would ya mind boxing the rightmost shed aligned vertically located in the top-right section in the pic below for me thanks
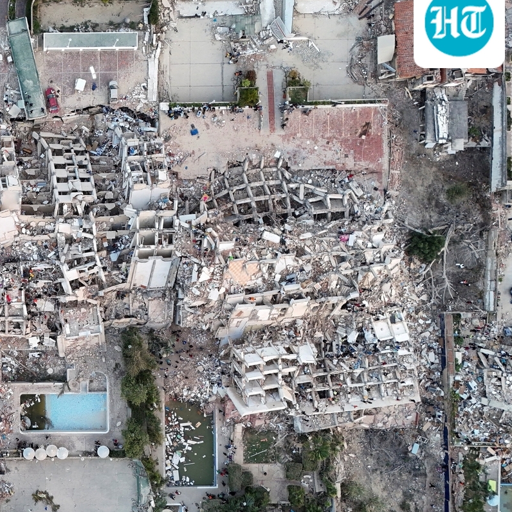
[484,83,506,193]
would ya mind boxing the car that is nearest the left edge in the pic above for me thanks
[44,85,58,112]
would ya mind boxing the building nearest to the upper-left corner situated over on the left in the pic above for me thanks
[41,31,138,57]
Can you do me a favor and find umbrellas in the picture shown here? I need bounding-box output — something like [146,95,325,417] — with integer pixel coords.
[96,445,109,458]
[23,447,34,459]
[56,447,68,460]
[34,448,46,460]
[45,445,57,457]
